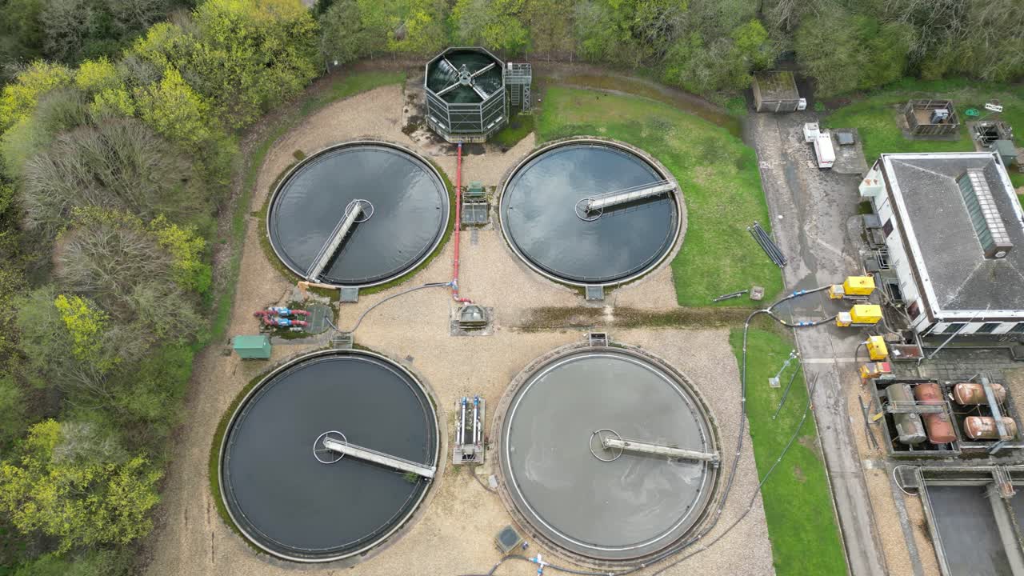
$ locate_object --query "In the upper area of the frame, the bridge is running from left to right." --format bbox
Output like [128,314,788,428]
[585,174,682,212]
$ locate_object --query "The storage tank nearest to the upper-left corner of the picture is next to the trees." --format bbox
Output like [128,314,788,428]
[267,141,451,302]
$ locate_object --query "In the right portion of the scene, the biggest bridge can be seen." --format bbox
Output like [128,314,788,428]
[602,432,726,474]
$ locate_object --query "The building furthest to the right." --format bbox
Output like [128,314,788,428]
[863,152,1024,346]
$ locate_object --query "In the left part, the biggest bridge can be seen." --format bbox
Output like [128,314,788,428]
[318,434,437,487]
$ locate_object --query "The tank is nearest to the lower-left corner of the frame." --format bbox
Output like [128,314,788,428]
[218,330,440,564]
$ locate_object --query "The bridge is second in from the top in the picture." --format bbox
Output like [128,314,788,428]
[305,194,365,284]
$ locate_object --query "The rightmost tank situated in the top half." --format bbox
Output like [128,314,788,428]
[498,138,682,300]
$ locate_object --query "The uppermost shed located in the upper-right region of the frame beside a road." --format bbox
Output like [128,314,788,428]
[754,68,803,112]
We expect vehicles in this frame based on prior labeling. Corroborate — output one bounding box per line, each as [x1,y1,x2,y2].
[800,118,826,148]
[812,134,842,173]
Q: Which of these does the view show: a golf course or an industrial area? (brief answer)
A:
industrial area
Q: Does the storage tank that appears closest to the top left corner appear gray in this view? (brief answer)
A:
Yes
